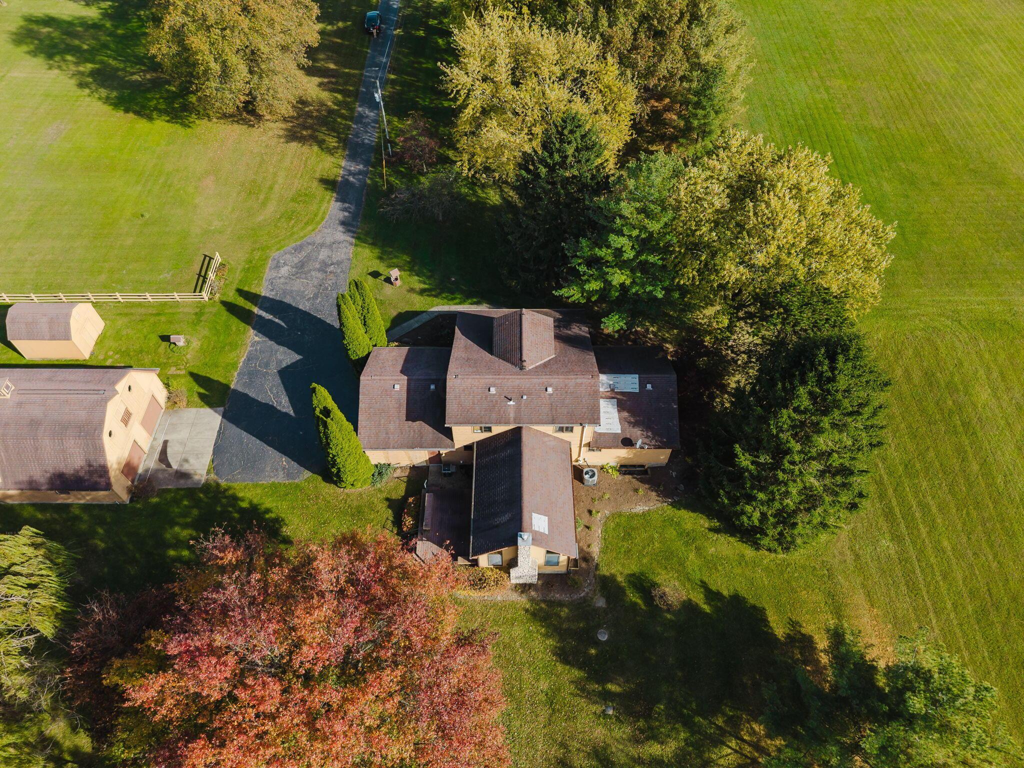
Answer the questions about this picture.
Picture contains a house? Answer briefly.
Yes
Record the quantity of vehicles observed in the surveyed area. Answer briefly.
1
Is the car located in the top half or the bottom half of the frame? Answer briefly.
top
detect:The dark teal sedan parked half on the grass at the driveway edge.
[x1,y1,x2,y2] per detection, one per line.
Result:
[365,10,385,32]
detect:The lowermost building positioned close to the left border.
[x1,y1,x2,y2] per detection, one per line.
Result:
[0,368,171,505]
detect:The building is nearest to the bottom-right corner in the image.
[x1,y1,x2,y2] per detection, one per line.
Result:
[358,309,679,583]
